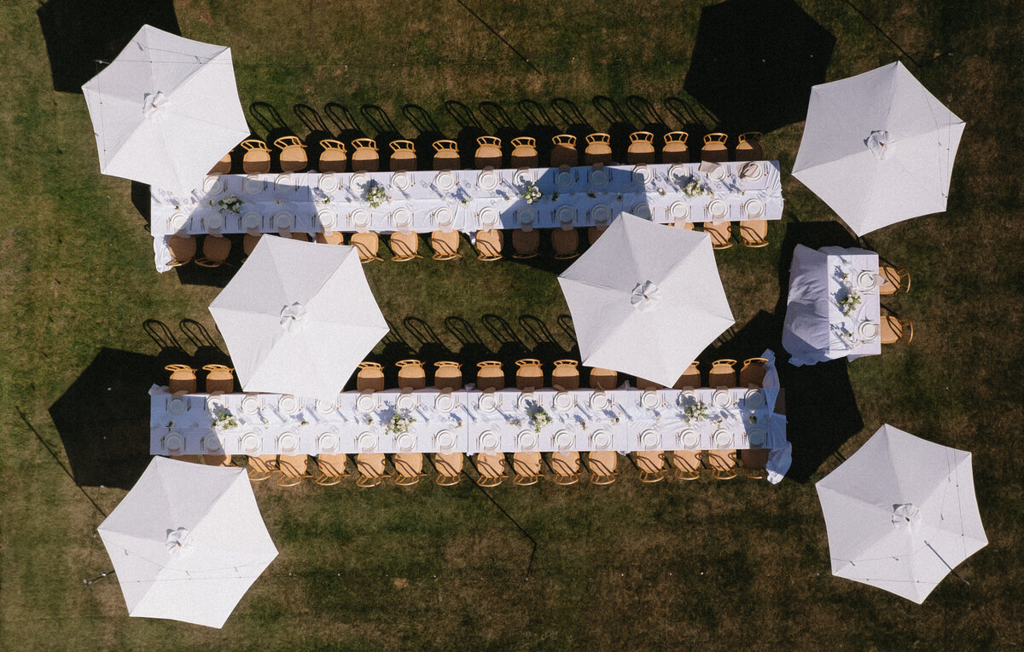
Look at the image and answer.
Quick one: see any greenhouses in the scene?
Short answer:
No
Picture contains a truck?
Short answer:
No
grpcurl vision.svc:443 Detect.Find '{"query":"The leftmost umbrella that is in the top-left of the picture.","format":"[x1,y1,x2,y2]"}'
[83,24,250,195]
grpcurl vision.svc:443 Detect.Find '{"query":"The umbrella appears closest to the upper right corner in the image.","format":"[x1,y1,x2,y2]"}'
[792,61,965,236]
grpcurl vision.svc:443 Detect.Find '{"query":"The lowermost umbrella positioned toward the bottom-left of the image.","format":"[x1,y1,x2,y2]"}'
[98,456,279,629]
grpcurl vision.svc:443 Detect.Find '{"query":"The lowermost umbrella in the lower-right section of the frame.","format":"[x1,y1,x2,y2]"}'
[816,424,988,604]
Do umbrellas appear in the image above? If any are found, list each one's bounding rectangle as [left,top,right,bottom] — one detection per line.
[792,61,965,236]
[83,24,250,195]
[558,212,735,388]
[98,456,279,629]
[209,234,390,401]
[816,424,988,604]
